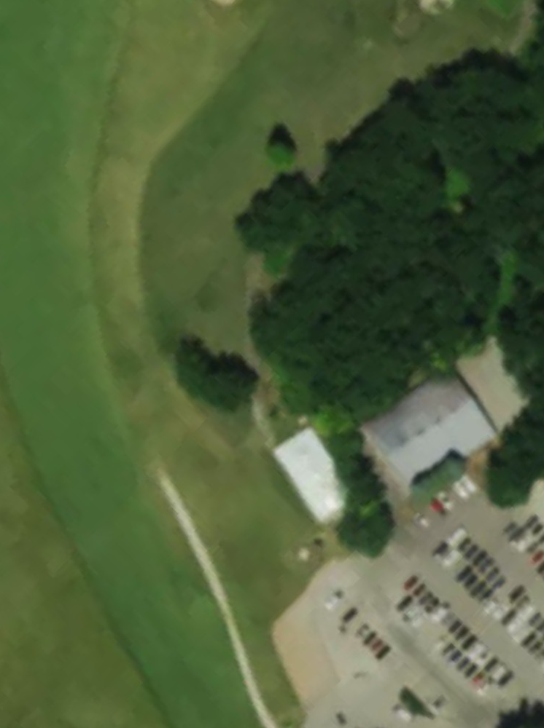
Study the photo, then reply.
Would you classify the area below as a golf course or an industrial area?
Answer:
golf course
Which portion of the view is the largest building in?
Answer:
right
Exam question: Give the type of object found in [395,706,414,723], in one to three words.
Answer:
vehicle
